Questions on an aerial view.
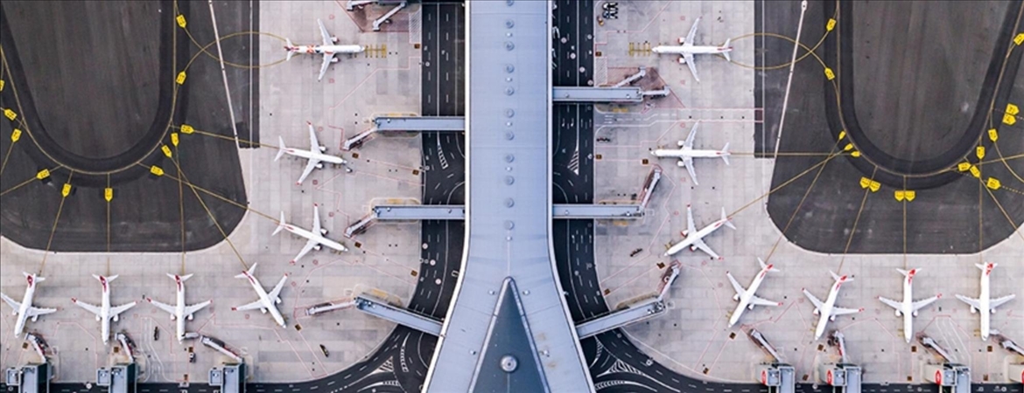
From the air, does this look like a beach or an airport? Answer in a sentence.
The picture captures an airport.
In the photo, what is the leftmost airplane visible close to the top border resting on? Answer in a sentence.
It looks like the leftmost airplane visible close to the top border is sitting on the apron.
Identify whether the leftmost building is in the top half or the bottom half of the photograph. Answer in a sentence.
The bottom half of the photo is where the leftmost building is.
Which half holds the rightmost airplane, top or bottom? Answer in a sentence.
The rightmost airplane is in the bottom half of the image.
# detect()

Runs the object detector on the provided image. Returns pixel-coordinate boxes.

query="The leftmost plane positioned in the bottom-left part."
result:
[0,273,56,337]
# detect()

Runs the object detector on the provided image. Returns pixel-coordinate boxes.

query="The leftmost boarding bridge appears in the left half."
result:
[24,333,55,365]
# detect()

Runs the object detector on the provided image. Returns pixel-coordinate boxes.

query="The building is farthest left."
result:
[6,362,56,393]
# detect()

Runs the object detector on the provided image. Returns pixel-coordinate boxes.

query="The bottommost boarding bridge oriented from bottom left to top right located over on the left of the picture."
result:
[344,213,375,238]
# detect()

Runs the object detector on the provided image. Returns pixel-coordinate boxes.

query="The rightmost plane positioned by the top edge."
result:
[651,19,731,78]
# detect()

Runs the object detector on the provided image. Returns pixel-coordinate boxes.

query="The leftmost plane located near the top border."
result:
[286,19,365,78]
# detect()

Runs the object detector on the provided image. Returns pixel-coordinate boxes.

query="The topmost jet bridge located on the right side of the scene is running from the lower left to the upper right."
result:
[613,66,645,86]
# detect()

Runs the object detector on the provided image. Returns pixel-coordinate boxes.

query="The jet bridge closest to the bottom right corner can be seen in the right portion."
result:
[998,340,1024,360]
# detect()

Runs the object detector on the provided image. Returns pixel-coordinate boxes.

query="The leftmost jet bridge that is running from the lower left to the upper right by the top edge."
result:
[374,3,406,31]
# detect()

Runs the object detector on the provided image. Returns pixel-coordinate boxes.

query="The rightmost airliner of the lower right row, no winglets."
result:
[954,265,1015,341]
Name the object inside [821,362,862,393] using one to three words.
building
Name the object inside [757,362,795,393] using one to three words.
building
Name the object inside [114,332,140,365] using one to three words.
jet bridge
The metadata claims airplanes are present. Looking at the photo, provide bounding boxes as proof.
[147,276,211,344]
[72,277,136,344]
[878,271,943,343]
[954,265,1015,341]
[275,203,347,262]
[726,259,783,327]
[651,19,731,78]
[665,203,735,259]
[0,273,56,337]
[286,19,365,78]
[276,121,347,184]
[651,124,731,182]
[803,273,864,341]
[231,264,285,327]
